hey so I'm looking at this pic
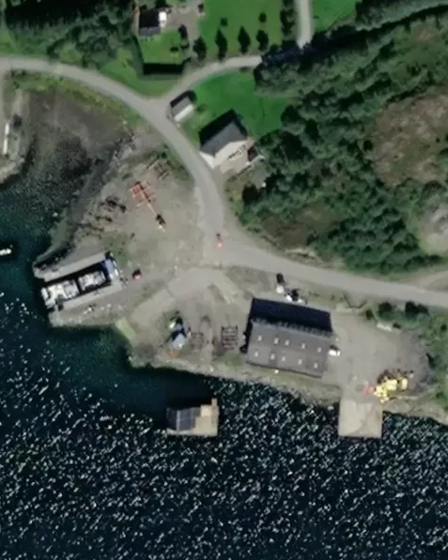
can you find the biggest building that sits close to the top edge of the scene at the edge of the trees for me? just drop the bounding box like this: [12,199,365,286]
[139,10,161,35]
